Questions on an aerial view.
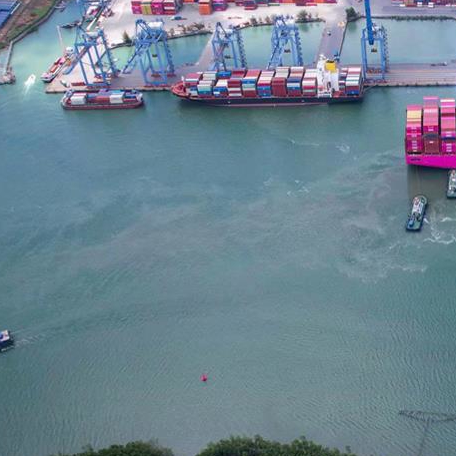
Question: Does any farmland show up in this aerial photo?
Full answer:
No, the scene doesn't show any farmland.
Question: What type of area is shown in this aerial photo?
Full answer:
It's a port.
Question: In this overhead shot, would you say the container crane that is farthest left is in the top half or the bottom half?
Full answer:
You can find the container crane that is farthest left in the top half.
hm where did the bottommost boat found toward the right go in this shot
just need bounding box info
[398,195,425,229]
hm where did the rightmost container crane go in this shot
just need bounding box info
[361,0,389,79]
